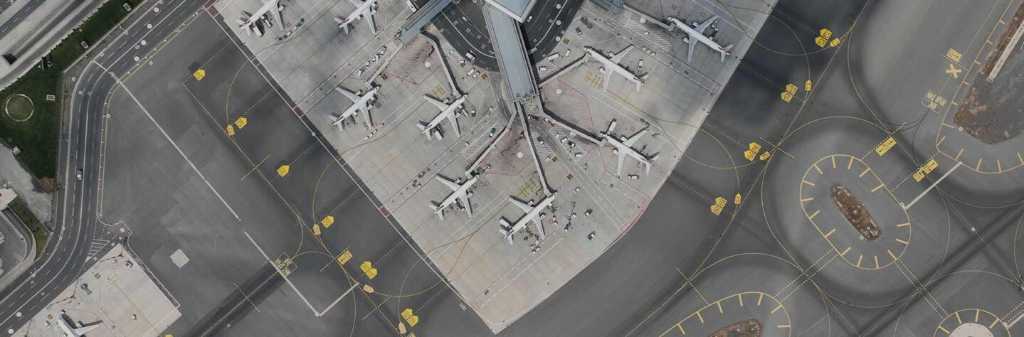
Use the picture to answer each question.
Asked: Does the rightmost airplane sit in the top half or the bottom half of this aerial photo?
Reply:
top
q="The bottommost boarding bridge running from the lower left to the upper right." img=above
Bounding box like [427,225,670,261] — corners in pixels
[467,103,519,177]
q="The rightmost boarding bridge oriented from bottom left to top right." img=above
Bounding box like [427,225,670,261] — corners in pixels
[536,51,591,90]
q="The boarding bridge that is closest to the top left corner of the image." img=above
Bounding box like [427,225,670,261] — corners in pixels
[365,42,407,89]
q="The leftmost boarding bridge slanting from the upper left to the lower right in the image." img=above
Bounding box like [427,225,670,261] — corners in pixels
[419,31,464,97]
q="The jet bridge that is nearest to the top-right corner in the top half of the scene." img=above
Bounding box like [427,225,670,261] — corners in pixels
[621,3,675,33]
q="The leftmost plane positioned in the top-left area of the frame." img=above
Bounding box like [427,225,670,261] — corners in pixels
[233,0,282,31]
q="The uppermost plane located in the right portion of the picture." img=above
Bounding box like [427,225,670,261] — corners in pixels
[669,13,736,62]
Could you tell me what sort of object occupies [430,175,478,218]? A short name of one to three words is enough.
airplane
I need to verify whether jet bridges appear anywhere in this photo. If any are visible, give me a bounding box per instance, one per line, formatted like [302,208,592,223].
[419,31,464,97]
[535,96,607,146]
[518,102,553,195]
[536,51,591,90]
[365,42,407,89]
[467,103,519,177]
[621,3,675,33]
